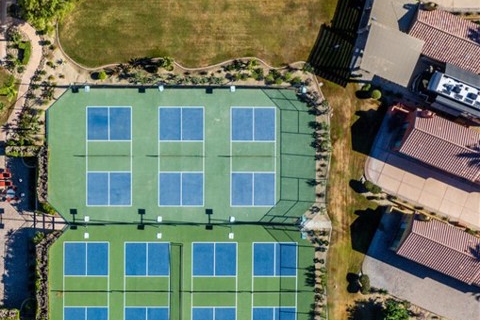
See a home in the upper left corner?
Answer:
No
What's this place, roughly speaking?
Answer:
sports ground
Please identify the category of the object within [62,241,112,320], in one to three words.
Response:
sports court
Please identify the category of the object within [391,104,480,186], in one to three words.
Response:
house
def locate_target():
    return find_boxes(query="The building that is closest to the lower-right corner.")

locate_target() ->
[388,207,480,286]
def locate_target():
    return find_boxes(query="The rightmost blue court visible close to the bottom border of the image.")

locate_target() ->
[252,241,302,320]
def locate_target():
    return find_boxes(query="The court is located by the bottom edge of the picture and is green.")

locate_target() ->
[48,225,315,320]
